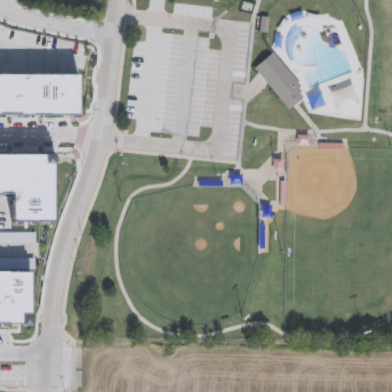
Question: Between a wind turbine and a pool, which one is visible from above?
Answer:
pool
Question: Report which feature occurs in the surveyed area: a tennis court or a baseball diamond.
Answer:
baseball diamond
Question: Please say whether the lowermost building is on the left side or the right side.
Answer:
left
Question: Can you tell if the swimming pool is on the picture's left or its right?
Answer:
right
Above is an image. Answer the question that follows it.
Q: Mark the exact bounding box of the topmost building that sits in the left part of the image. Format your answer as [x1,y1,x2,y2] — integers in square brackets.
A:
[0,73,82,117]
